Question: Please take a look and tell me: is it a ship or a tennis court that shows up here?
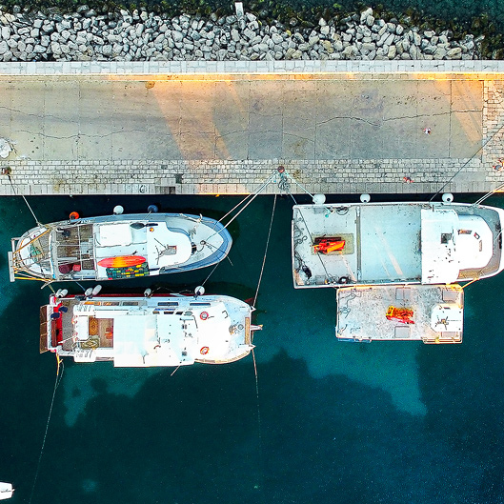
ship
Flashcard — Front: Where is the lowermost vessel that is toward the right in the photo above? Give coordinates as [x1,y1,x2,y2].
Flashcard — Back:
[336,283,463,344]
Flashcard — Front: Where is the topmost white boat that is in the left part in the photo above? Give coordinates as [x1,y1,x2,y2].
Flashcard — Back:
[8,213,232,282]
